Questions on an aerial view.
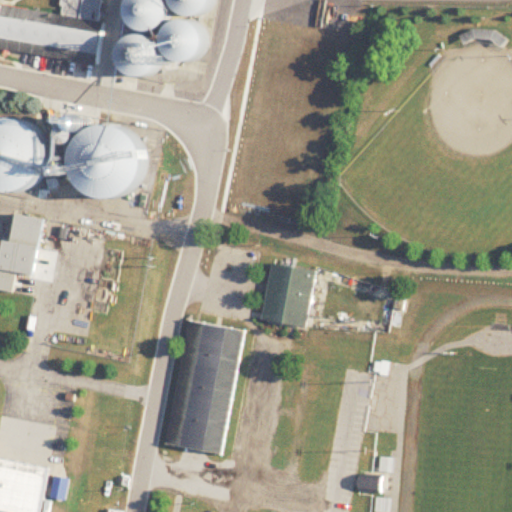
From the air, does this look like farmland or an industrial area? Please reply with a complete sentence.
It's an industrial area.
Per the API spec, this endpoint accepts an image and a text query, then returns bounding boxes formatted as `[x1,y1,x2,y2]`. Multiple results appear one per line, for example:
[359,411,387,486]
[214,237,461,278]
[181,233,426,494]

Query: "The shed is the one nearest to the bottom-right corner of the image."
[355,474,382,494]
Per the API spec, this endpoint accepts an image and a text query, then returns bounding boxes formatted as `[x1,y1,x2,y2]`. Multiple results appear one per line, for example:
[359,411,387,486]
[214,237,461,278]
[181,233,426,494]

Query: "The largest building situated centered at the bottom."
[160,321,244,454]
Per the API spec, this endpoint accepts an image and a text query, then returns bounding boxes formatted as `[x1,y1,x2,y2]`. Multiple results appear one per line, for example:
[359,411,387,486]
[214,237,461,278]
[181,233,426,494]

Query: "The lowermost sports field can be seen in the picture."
[406,304,512,512]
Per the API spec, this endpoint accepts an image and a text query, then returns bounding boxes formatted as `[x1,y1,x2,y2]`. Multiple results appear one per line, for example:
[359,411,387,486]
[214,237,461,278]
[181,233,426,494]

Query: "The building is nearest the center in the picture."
[262,264,316,328]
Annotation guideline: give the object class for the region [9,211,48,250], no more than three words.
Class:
building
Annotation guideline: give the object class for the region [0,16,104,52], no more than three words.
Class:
building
